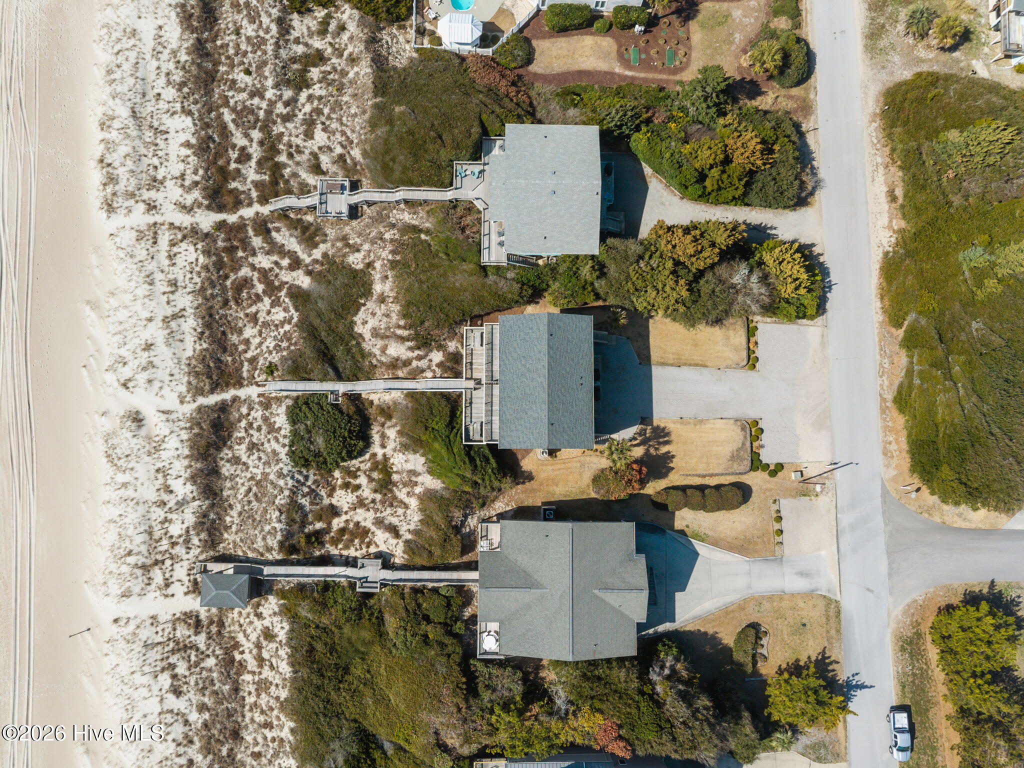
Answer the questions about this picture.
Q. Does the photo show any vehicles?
Yes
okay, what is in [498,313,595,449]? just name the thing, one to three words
house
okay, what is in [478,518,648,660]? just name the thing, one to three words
house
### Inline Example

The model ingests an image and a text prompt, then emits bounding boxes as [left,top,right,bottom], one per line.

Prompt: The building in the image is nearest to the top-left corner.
[438,12,482,55]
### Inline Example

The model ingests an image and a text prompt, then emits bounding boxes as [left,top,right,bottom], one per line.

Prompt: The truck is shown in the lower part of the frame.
[886,709,913,760]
